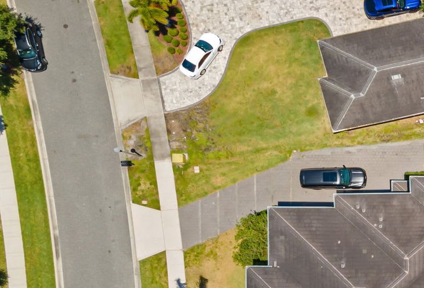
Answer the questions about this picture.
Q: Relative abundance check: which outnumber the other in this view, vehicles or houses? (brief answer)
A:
vehicles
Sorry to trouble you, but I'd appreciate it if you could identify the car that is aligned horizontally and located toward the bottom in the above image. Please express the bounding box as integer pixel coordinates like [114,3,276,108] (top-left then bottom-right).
[298,164,366,193]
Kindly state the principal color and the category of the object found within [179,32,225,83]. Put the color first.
white car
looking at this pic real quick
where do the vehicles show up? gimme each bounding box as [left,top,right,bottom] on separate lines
[362,0,421,21]
[179,32,225,83]
[298,164,366,193]
[18,18,52,74]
